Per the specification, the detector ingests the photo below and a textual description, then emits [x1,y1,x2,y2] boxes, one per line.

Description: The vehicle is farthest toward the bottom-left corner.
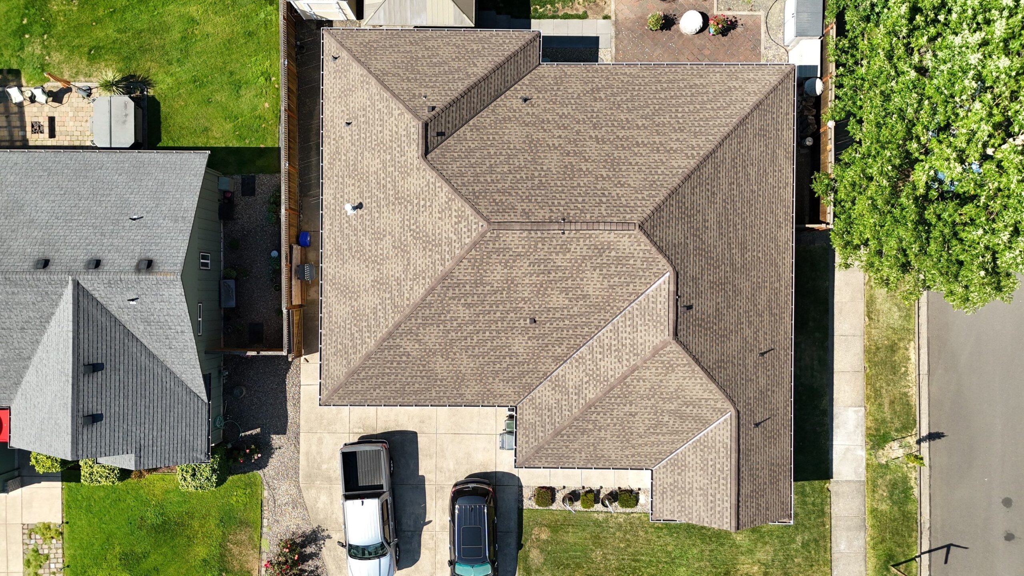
[334,438,403,576]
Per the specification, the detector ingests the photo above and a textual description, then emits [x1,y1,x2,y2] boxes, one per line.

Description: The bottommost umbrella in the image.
[44,73,85,91]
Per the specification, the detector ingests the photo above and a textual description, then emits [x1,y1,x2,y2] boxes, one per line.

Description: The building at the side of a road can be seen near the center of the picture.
[319,28,795,535]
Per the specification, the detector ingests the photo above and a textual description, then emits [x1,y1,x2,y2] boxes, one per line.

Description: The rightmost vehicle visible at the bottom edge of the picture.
[445,475,503,576]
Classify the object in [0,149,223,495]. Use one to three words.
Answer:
house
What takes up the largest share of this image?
buildings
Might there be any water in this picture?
No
